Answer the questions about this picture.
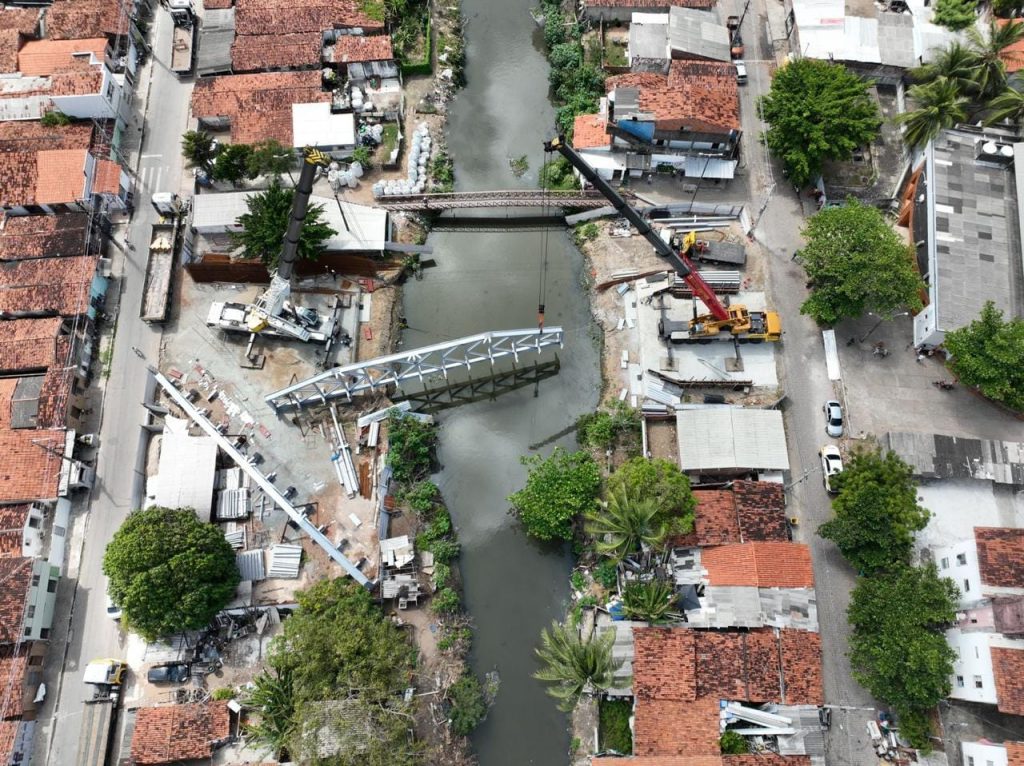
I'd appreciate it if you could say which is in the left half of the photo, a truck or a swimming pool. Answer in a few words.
truck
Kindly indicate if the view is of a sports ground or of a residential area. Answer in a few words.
residential area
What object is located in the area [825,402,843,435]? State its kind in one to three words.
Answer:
car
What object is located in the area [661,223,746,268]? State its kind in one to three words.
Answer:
truck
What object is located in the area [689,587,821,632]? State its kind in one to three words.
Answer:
house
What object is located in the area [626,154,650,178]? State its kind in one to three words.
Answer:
shed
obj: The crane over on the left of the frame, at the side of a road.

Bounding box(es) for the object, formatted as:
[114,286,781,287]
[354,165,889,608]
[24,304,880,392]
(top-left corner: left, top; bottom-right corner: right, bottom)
[202,132,351,367]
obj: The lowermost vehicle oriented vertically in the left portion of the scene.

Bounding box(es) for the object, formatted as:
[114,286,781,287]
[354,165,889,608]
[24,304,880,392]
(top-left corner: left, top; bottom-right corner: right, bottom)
[77,661,122,766]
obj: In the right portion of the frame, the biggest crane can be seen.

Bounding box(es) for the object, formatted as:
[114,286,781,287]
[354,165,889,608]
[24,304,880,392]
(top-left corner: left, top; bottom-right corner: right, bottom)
[533,137,785,370]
